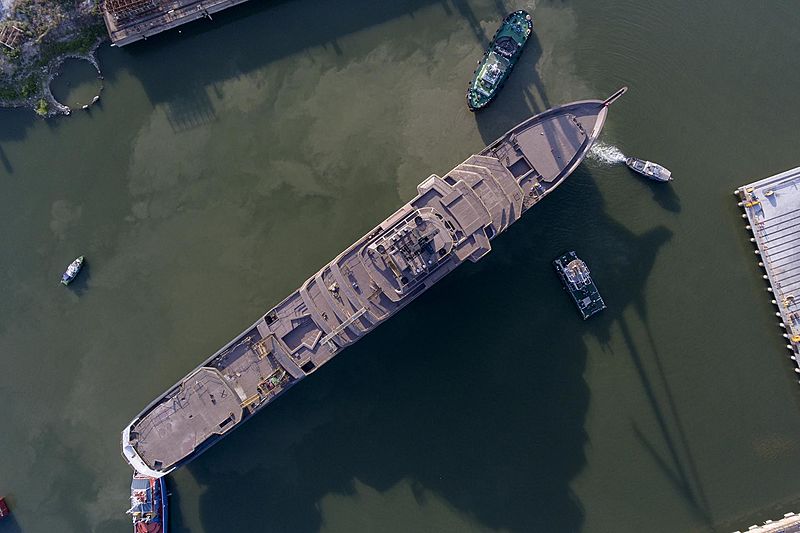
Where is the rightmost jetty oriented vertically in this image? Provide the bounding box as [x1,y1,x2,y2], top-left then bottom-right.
[732,166,800,385]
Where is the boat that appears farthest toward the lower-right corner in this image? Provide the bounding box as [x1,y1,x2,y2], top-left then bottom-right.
[552,249,607,319]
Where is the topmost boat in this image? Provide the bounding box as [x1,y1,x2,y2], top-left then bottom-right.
[467,11,530,109]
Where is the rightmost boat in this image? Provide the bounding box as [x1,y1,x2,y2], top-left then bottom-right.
[623,155,673,181]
